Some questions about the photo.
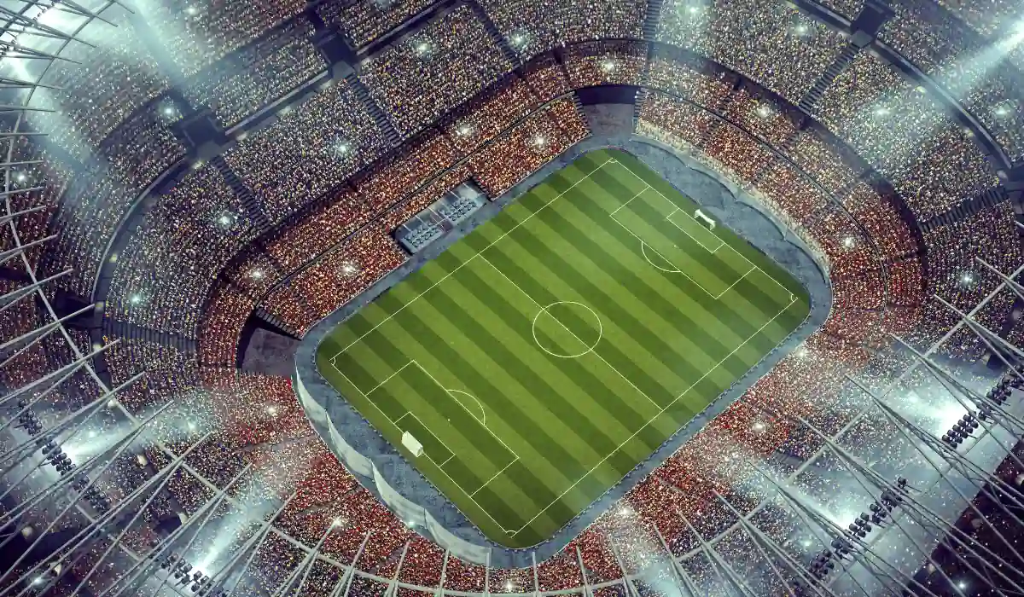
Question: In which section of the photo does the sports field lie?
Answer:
center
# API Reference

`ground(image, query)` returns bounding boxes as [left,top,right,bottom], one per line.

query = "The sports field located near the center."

[318,150,810,549]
